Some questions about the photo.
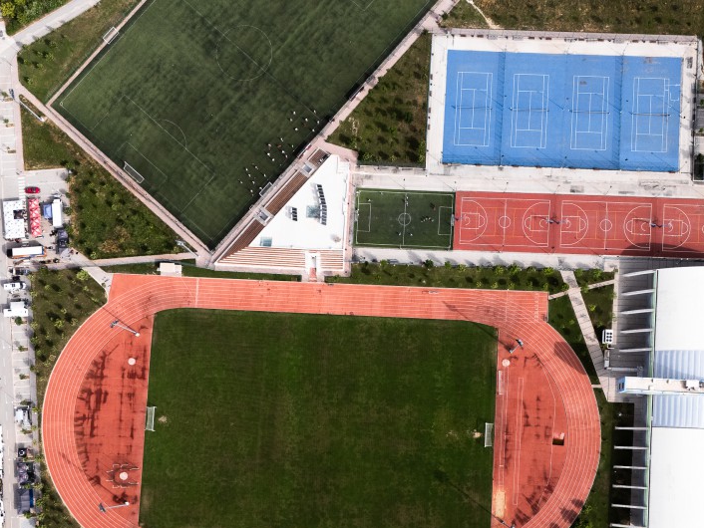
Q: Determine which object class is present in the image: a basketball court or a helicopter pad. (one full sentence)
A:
There is a basketball court in the scene.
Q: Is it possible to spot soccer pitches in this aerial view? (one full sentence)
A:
Yes, a soccer pitch appears in the view.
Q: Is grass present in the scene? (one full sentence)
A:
Yes, some grass is visible.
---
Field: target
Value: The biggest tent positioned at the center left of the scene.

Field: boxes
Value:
[3,200,29,240]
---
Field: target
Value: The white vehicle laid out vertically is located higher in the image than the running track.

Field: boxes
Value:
[51,198,67,229]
